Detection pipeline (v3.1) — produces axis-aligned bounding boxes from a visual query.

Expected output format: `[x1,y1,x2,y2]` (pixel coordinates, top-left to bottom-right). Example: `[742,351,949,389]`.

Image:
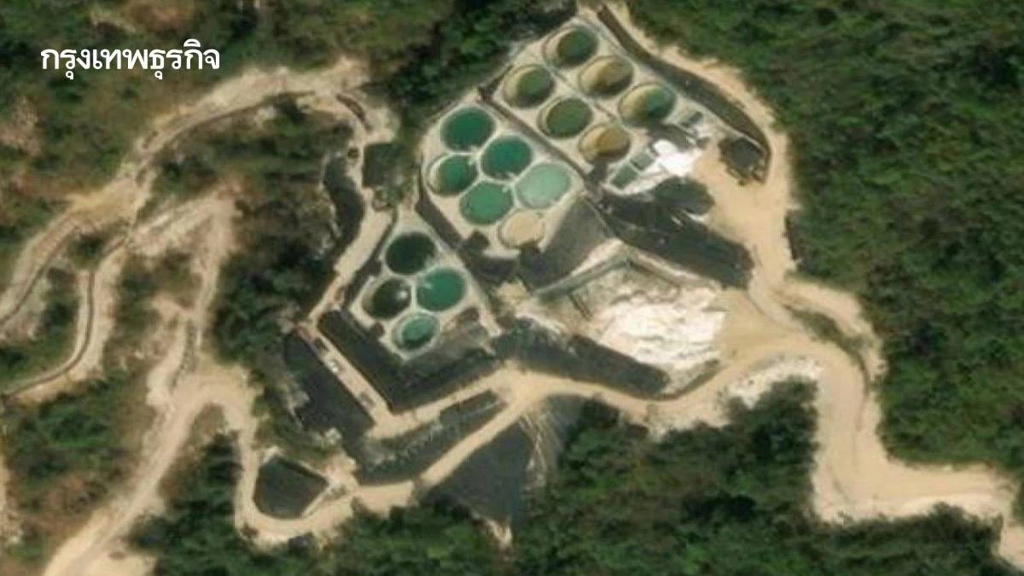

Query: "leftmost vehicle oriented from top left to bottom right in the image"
[313,336,326,352]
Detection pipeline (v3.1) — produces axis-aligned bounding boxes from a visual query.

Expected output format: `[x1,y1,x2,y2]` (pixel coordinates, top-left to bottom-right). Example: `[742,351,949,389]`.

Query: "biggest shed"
[653,115,691,153]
